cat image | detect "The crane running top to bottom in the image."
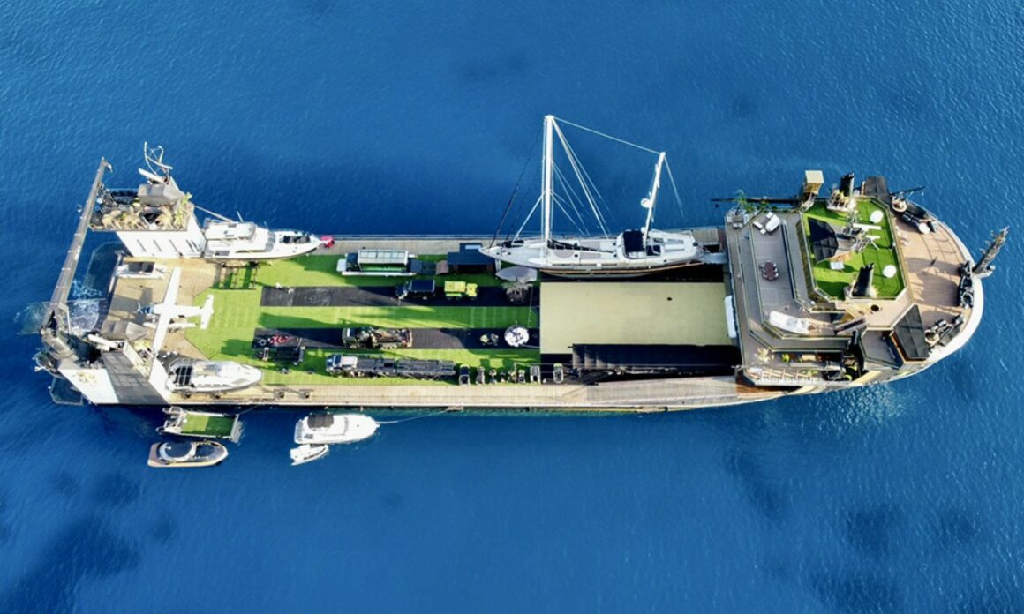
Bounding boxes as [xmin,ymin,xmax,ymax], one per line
[33,159,121,369]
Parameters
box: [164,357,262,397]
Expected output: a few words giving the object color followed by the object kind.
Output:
white boat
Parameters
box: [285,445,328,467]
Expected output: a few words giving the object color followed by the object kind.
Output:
white boat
